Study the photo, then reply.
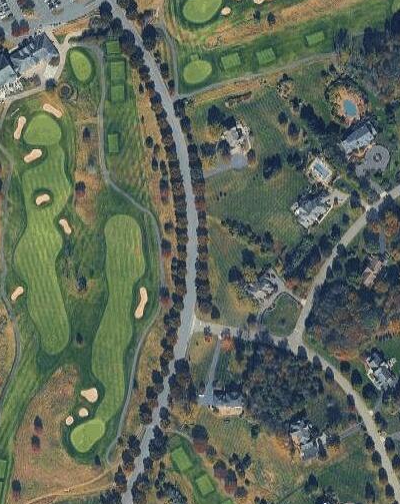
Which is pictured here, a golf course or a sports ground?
golf course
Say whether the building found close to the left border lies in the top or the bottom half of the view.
top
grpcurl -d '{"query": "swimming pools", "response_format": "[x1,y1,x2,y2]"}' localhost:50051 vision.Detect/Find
[307,156,332,185]
[335,87,366,124]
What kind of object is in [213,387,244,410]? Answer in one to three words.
house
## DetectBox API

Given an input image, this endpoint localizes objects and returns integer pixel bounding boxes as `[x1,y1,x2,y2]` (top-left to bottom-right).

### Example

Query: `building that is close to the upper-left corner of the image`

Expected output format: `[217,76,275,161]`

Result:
[0,27,59,87]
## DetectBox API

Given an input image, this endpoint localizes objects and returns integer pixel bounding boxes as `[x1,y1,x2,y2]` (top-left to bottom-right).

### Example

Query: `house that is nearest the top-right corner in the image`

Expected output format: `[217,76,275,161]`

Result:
[340,121,380,157]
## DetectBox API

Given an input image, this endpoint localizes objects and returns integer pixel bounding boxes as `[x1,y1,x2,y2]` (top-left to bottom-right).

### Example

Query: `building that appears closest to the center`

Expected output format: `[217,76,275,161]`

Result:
[243,275,275,304]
